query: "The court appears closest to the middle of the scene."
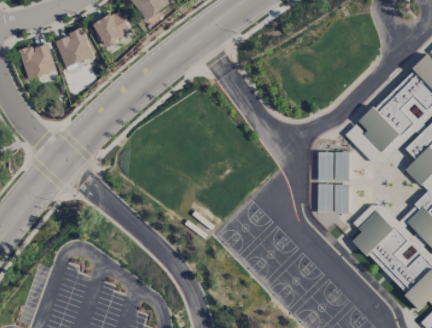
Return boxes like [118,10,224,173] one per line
[218,201,274,256]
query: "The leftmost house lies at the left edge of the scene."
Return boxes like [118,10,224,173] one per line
[19,43,58,80]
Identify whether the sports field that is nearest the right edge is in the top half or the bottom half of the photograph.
top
